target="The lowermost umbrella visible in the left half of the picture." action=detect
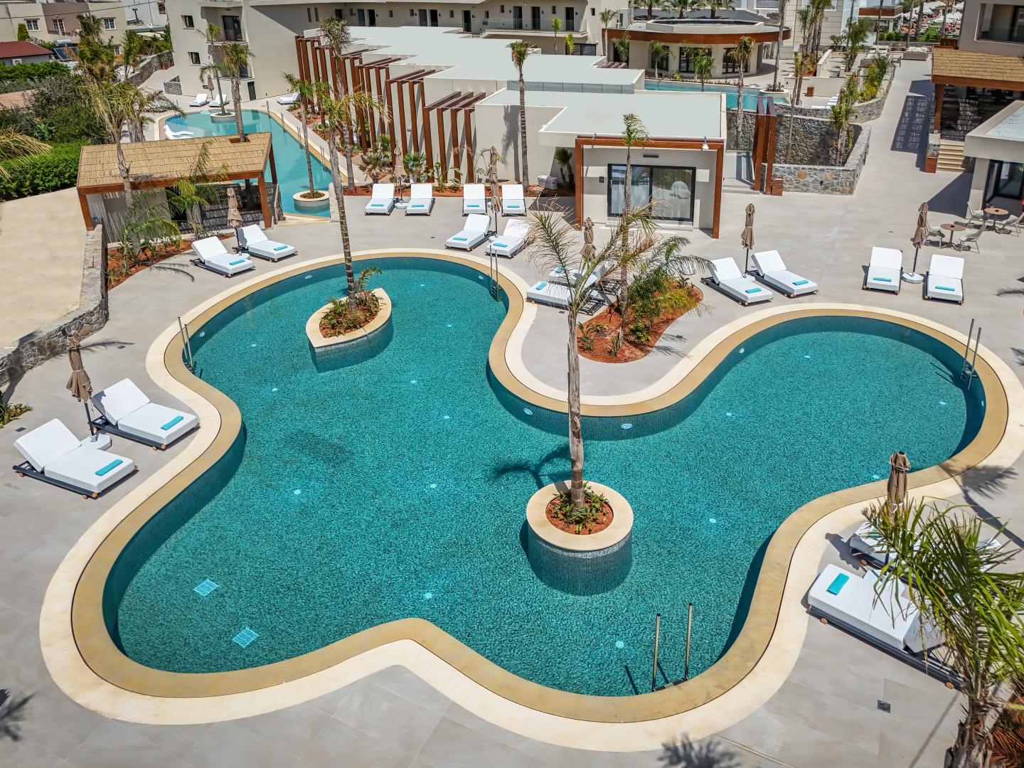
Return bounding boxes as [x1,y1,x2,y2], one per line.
[52,339,110,445]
